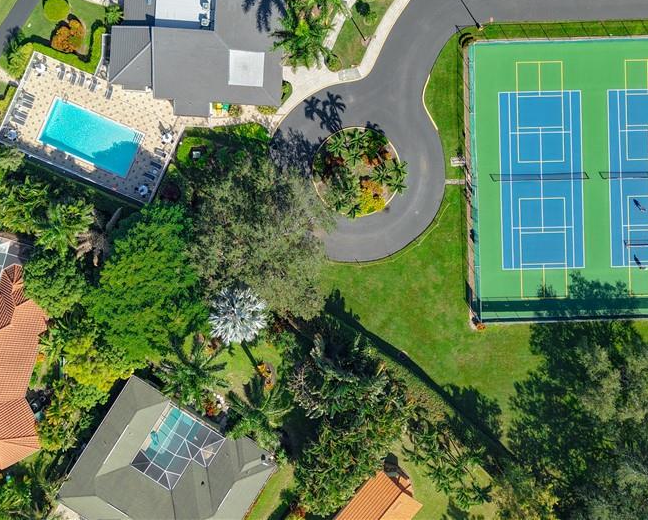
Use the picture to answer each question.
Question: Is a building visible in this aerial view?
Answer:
Yes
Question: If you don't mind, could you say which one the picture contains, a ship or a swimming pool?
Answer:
swimming pool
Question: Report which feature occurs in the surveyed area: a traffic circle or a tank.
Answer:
traffic circle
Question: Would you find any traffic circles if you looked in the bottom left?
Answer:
No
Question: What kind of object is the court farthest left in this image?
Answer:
tennis court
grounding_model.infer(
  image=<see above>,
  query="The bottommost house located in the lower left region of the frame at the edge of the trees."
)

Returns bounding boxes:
[58,372,276,520]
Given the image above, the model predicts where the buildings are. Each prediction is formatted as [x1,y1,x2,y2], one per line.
[330,461,422,520]
[109,0,284,118]
[58,372,276,520]
[0,264,49,470]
